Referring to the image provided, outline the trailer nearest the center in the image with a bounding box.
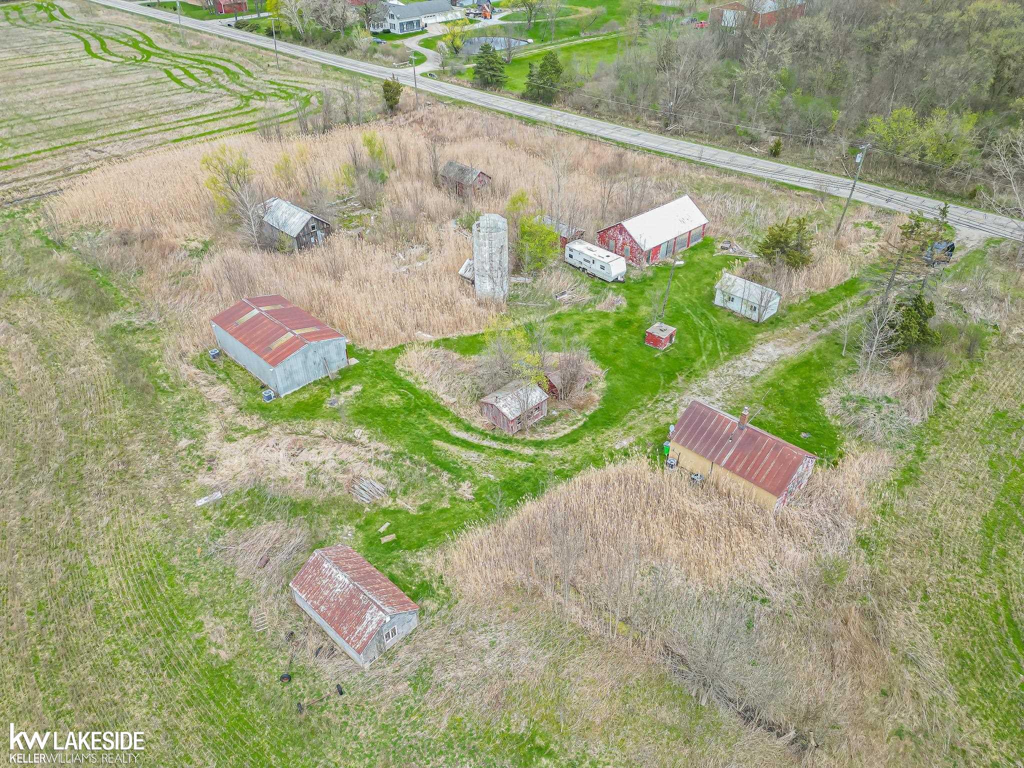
[565,241,624,287]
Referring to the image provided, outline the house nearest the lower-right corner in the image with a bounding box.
[666,401,820,512]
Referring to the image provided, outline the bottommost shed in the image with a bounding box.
[290,546,419,669]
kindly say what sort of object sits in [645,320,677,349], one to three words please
building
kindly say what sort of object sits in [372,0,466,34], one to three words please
house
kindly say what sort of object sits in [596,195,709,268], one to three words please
barn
